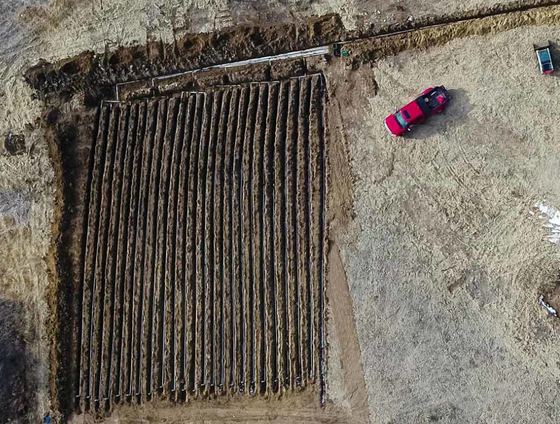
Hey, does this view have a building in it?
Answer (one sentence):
No, there's no building here.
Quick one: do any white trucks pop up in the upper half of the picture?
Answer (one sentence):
No, the scene shows no white truck in the upper half of the picture.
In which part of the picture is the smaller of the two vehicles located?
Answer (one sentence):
Look in the top right portion of the view to spot the smaller of the two vehicles.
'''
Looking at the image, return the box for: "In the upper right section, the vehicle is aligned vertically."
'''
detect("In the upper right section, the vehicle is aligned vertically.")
[535,41,556,77]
